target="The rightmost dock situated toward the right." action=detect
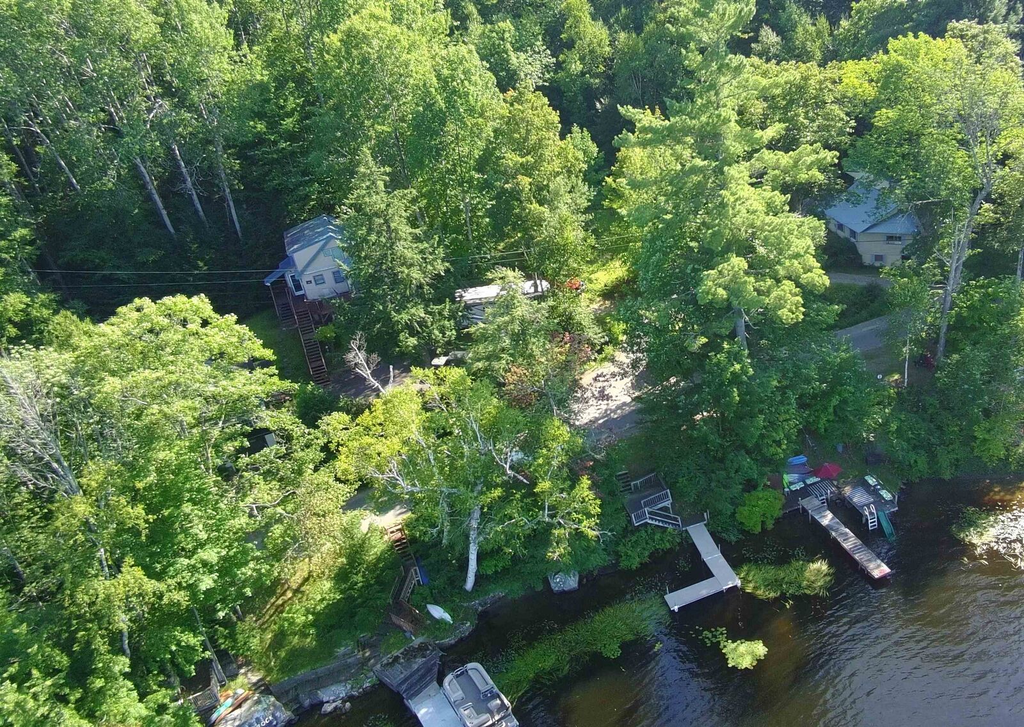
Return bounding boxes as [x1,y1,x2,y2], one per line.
[800,496,892,582]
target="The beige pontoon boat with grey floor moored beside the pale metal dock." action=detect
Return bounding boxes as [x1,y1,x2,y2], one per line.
[450,661,522,727]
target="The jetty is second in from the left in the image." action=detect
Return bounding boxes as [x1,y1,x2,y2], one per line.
[654,522,742,611]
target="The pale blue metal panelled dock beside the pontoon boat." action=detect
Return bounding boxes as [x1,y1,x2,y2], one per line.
[405,683,463,727]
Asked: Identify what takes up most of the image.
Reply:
trees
